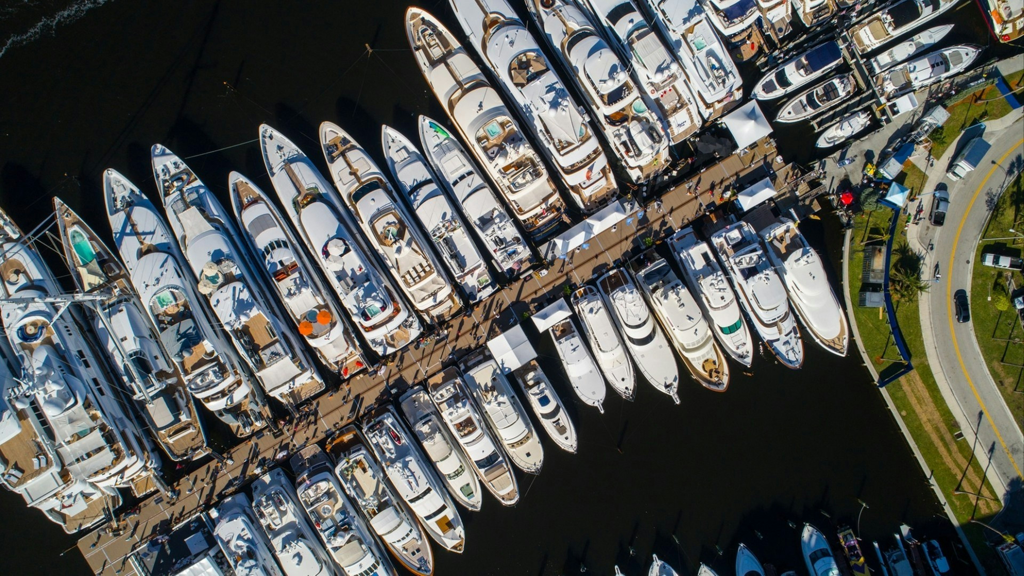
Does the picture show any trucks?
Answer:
Yes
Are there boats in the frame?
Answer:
Yes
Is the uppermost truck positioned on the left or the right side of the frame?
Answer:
right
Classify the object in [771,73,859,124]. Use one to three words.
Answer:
boat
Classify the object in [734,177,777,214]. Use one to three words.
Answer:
tent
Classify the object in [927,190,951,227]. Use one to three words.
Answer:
truck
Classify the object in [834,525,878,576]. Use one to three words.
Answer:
ship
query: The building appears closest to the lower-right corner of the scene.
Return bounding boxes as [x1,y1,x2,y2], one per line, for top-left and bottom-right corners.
[853,292,883,307]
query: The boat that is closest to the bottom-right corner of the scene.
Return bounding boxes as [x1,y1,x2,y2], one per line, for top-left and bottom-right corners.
[918,536,951,576]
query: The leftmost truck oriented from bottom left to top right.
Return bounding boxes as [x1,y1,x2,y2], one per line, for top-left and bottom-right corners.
[948,135,1002,187]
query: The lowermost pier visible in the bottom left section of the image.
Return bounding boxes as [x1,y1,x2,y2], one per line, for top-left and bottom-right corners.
[95,550,147,576]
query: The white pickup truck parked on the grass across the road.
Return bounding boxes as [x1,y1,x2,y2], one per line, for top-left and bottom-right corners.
[979,253,1024,275]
